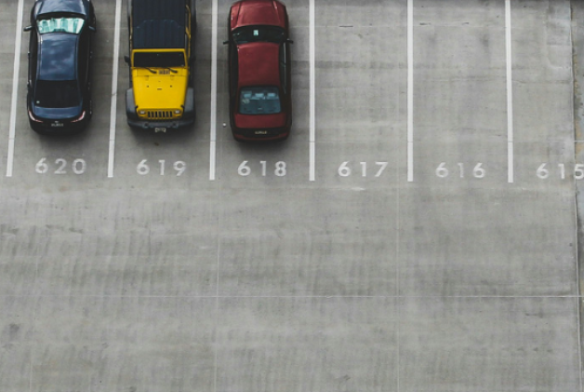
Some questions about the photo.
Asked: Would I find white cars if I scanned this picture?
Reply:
No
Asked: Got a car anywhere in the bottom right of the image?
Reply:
No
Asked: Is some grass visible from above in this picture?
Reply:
No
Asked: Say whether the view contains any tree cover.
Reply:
No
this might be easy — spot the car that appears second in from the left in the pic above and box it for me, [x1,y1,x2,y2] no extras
[124,0,198,132]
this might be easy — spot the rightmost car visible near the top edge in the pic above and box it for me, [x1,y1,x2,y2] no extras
[221,0,299,140]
